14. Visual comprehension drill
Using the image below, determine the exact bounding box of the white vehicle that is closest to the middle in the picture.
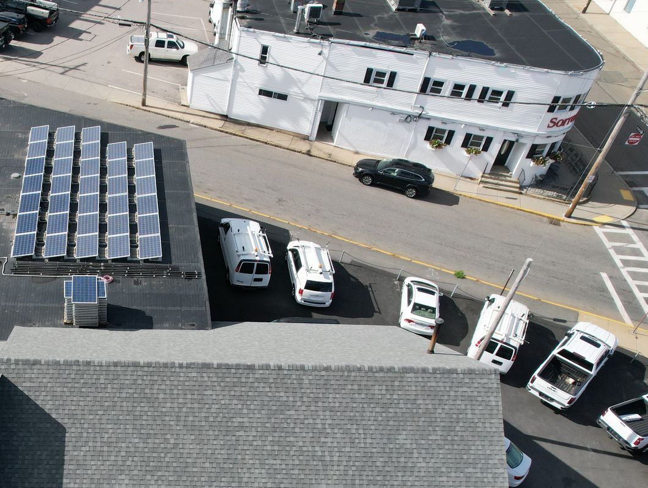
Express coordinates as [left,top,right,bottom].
[281,243,339,309]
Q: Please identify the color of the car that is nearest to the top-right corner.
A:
black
